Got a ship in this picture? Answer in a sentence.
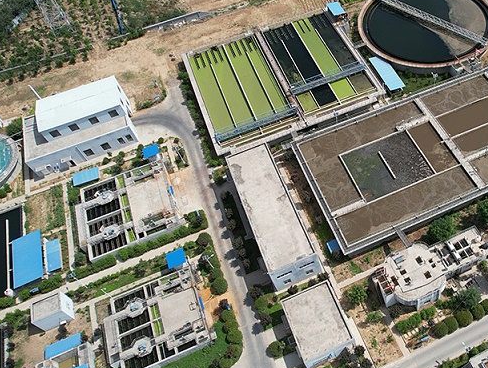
No, the scene contains no ship.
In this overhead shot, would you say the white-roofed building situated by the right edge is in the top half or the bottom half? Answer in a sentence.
You can find the white-roofed building situated by the right edge in the bottom half.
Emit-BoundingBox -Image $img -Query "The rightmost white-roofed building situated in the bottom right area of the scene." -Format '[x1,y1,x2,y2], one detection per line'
[372,224,488,313]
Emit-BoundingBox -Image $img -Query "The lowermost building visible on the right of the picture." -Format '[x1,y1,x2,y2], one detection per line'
[281,280,359,368]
